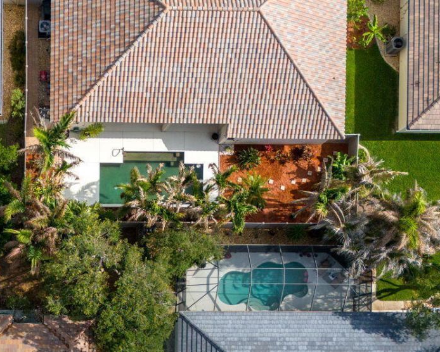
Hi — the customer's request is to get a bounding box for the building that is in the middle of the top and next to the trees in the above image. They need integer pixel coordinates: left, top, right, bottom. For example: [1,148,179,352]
[49,0,348,144]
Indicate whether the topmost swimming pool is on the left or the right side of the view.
left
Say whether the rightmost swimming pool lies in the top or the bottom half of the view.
bottom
